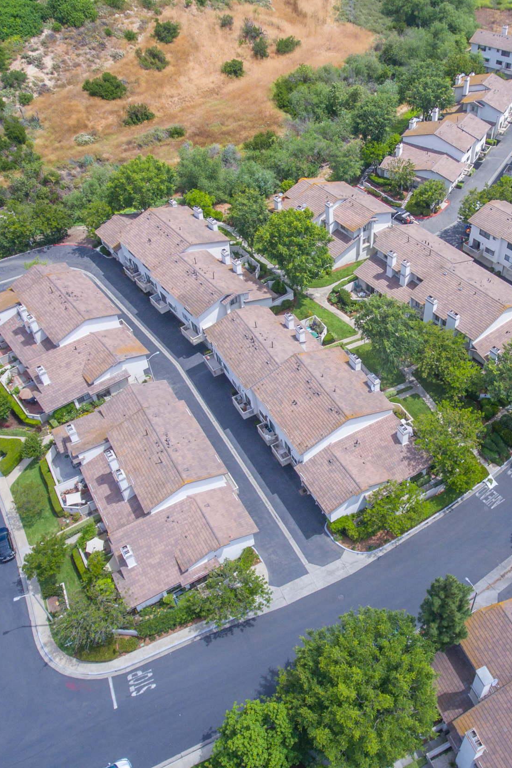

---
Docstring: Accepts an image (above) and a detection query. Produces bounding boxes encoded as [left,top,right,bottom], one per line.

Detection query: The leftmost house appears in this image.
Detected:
[0,262,151,417]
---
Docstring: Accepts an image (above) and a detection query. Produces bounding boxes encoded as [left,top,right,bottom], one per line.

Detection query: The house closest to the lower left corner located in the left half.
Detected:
[61,379,262,630]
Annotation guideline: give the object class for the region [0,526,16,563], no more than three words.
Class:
car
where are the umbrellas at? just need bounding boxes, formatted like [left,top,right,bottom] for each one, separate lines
[86,538,104,555]
[19,389,35,406]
